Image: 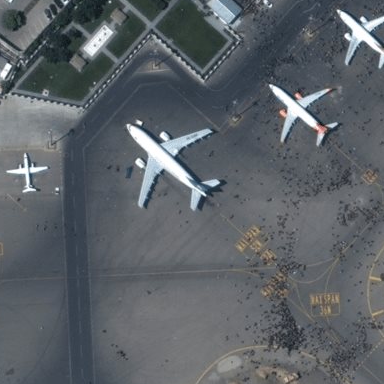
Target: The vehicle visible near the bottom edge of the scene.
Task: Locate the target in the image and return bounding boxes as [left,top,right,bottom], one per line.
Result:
[283,371,301,383]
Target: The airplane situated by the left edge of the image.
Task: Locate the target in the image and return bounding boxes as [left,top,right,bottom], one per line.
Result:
[4,153,49,194]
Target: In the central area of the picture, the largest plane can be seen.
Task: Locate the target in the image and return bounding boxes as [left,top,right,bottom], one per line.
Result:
[127,124,220,210]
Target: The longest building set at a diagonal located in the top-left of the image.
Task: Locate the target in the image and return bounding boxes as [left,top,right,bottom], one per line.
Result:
[84,25,113,58]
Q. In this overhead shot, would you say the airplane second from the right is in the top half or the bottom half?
top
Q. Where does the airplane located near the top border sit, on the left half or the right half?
right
